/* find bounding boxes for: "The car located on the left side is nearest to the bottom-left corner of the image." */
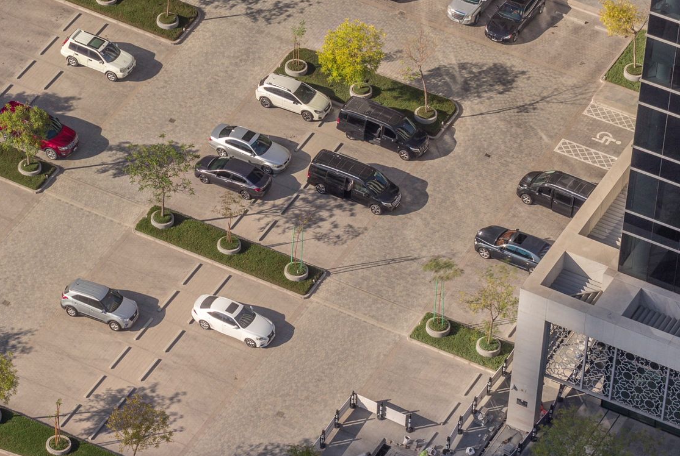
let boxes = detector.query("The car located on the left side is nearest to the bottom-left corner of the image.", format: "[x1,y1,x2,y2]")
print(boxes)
[58,277,143,331]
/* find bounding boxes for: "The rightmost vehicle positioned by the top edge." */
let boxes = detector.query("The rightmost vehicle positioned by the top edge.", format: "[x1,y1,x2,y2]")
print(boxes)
[483,0,548,45]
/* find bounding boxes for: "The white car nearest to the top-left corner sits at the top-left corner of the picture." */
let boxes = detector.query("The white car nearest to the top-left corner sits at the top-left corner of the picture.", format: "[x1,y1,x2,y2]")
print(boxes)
[58,25,139,81]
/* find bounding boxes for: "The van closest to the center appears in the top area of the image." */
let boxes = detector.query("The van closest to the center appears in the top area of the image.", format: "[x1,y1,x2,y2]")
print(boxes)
[306,147,406,215]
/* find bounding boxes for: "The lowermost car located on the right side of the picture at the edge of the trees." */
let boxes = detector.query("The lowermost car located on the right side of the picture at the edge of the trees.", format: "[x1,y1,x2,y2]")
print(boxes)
[468,224,553,272]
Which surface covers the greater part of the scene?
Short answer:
paved ground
